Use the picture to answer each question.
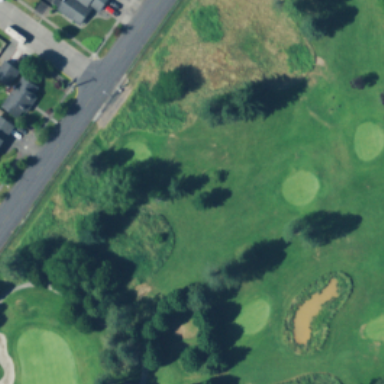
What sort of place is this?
golf course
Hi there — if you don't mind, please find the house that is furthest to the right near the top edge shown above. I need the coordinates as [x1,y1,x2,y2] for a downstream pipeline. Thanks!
[50,0,98,25]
